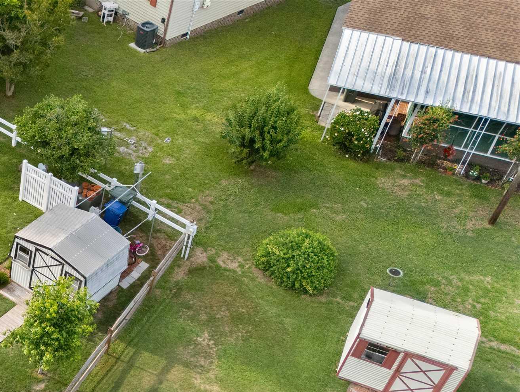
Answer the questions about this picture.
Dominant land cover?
grass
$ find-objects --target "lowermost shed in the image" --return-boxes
[336,281,488,392]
